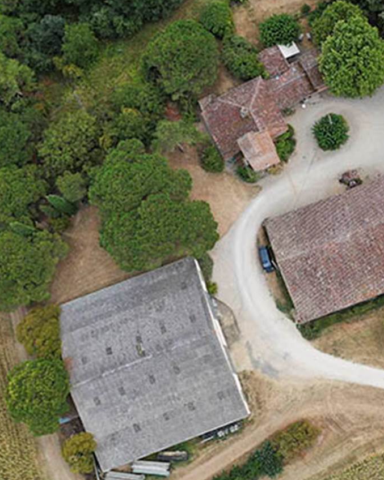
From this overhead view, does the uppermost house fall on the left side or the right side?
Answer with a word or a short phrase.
right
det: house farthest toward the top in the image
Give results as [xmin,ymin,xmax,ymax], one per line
[197,45,325,175]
